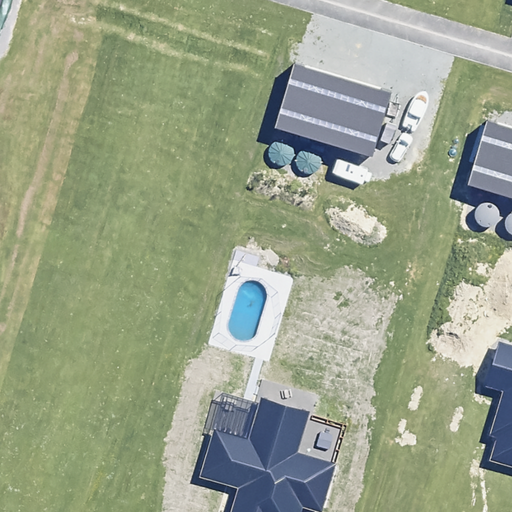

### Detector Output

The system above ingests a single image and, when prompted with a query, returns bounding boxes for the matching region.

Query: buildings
[484,341,512,468]
[468,120,512,198]
[276,63,390,154]
[200,398,336,512]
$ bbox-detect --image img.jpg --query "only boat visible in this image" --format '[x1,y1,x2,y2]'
[402,90,428,132]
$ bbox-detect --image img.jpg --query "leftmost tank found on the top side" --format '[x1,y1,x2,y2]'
[268,142,294,167]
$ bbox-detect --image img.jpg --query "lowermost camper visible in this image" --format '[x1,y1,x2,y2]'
[332,160,374,184]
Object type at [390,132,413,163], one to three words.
car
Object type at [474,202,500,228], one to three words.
water tank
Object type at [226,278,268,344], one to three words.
swimming pool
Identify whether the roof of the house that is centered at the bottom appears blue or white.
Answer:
blue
